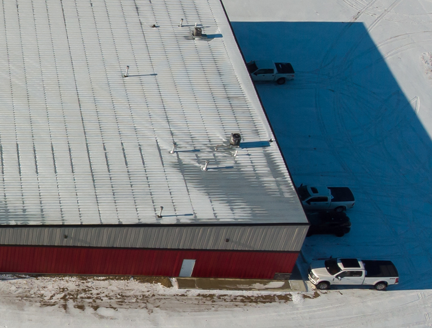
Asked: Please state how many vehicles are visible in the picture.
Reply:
4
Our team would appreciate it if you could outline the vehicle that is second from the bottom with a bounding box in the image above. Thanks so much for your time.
[306,210,353,238]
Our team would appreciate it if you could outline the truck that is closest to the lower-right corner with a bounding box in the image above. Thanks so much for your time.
[309,259,397,292]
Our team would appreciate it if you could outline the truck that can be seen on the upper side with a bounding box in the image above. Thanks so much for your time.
[248,59,296,84]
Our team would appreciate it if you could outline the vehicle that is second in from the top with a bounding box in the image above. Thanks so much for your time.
[298,184,358,213]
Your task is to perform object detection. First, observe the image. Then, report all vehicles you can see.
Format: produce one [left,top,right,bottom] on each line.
[306,210,353,238]
[298,184,358,213]
[309,259,397,292]
[248,59,296,84]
